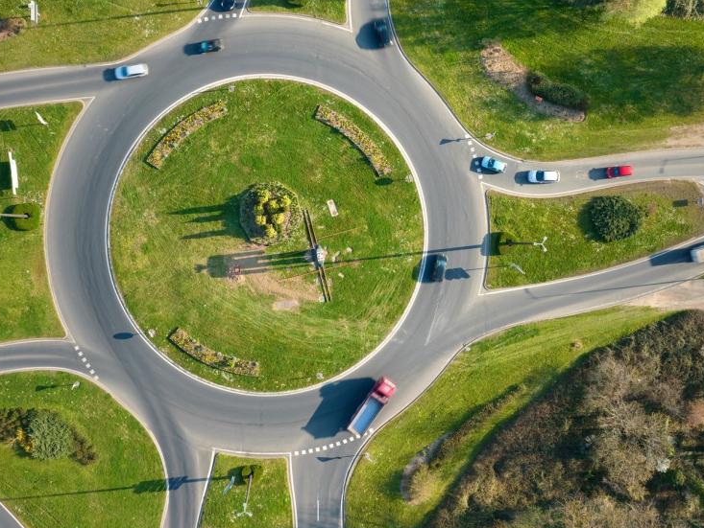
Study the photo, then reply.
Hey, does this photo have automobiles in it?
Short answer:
Yes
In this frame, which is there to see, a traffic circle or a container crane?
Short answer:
traffic circle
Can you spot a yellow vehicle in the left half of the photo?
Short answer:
No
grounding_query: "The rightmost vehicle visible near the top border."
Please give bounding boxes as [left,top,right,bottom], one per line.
[374,15,391,50]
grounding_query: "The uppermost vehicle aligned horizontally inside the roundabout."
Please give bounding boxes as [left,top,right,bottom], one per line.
[191,39,224,55]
